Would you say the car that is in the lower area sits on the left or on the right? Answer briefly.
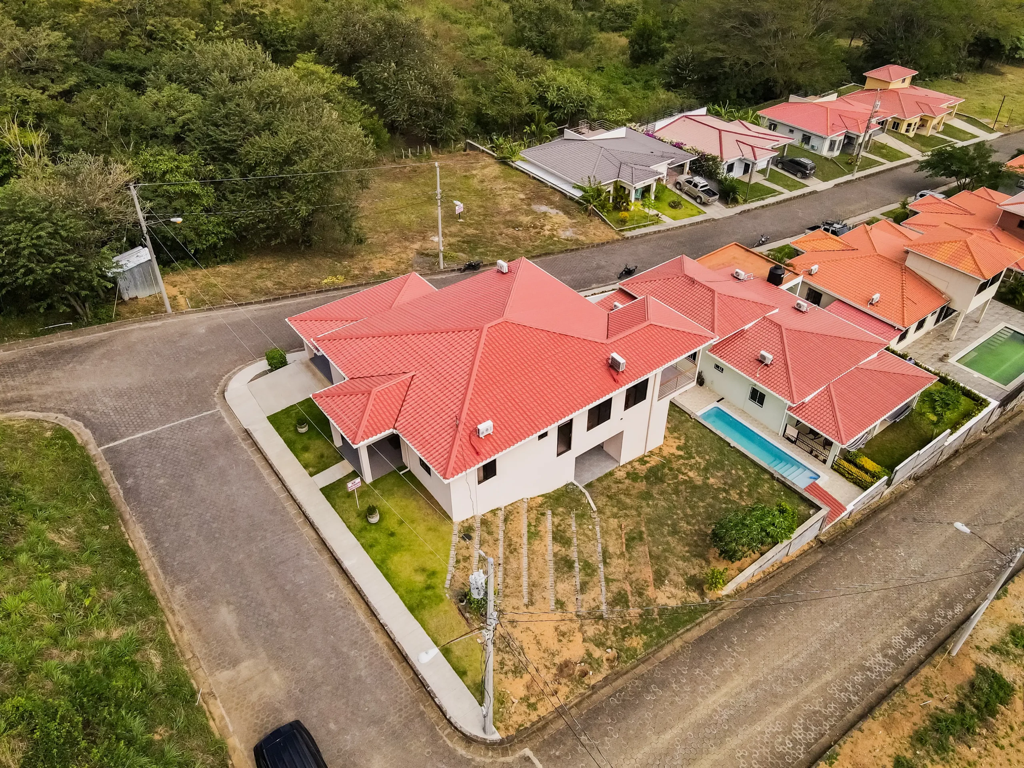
left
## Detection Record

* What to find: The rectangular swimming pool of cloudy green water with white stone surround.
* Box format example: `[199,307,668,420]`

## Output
[949,319,1024,392]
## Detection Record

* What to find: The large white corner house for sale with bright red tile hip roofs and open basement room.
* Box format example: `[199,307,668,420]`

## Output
[283,255,723,519]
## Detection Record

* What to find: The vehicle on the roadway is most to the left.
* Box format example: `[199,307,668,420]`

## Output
[245,709,326,768]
